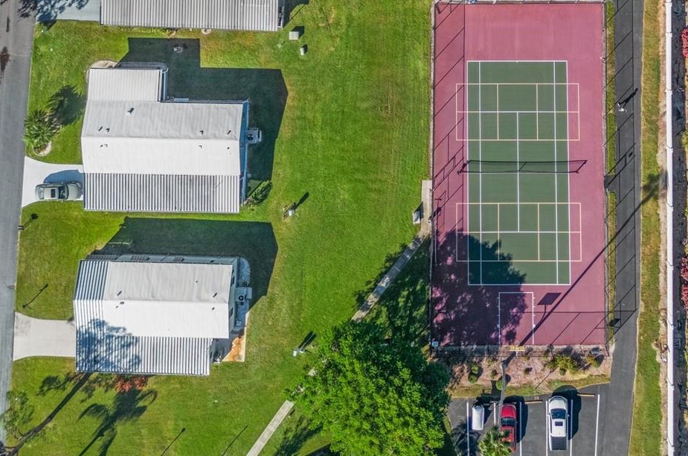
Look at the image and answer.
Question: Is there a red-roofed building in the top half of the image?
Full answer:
No, no red-roofed building can be made out in the top half of the image.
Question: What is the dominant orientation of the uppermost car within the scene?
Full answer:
The uppermost car is laid out horizontally.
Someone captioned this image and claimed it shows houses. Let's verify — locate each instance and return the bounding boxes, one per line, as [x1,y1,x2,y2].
[100,0,280,31]
[81,63,252,213]
[73,254,238,376]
